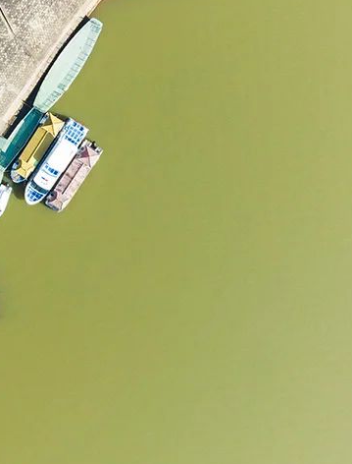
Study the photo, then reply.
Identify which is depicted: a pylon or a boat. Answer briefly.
boat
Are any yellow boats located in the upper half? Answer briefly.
Yes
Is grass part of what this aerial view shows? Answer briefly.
No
